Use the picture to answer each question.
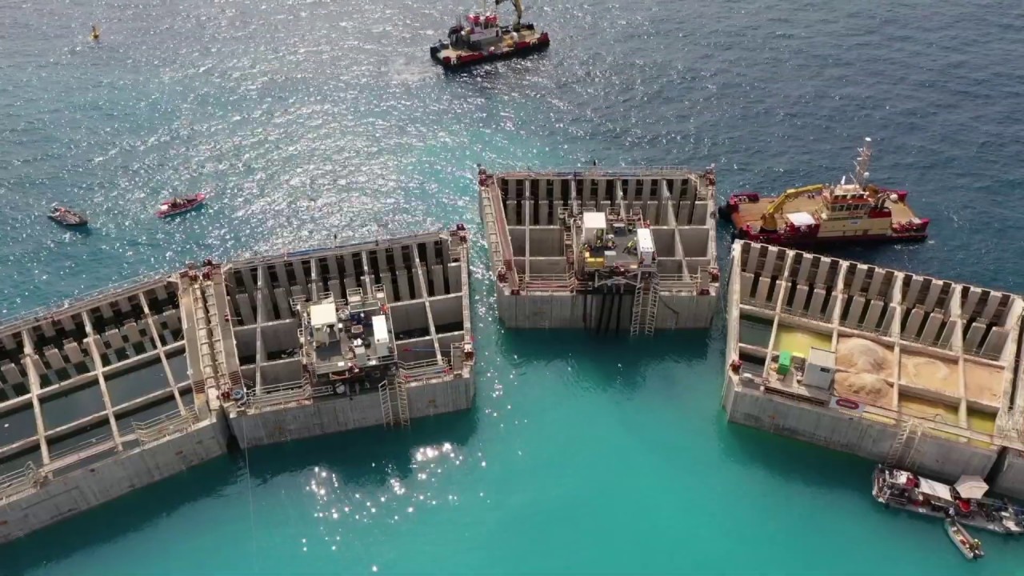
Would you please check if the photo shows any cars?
No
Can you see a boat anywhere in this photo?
Yes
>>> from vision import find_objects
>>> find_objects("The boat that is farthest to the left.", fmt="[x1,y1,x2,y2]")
[43,201,89,225]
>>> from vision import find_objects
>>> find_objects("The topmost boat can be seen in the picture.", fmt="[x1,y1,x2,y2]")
[430,0,553,76]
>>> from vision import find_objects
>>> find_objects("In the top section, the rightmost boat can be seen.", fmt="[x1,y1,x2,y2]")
[722,143,933,256]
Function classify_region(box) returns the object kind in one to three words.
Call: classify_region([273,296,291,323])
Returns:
pier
